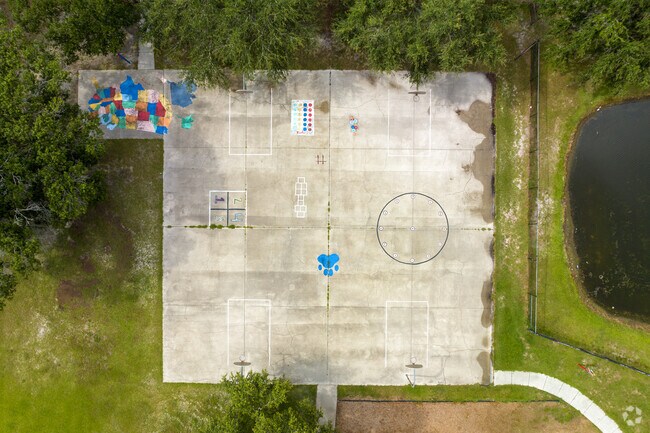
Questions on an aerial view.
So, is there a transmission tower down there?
No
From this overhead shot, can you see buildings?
No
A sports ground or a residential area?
sports ground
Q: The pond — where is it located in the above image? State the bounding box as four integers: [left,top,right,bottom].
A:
[565,102,650,325]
